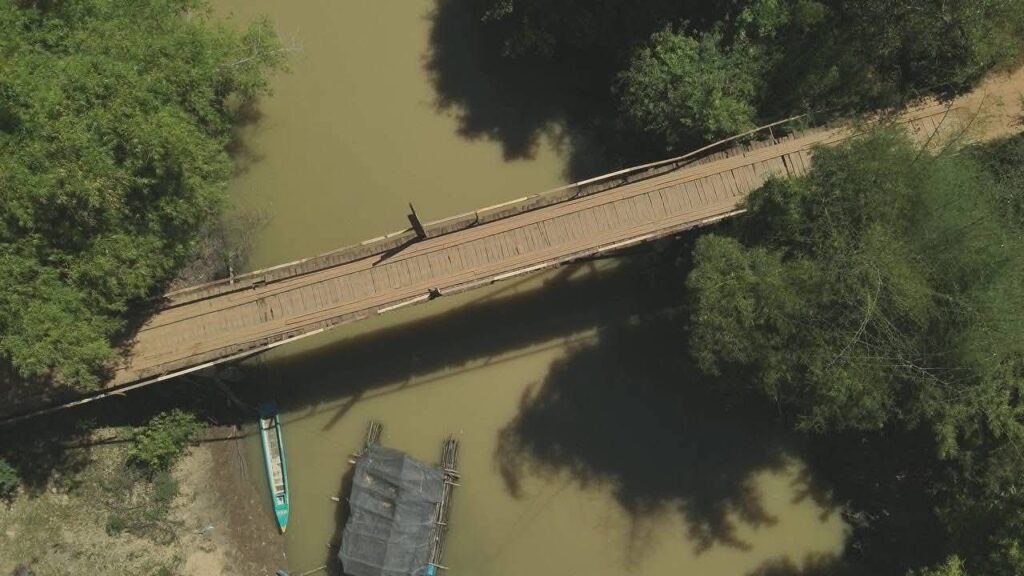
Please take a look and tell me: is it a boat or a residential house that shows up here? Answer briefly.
boat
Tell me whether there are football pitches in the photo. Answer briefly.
No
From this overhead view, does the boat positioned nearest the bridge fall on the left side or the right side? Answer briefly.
left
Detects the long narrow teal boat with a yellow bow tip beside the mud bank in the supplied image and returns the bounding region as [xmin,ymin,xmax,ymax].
[261,404,289,533]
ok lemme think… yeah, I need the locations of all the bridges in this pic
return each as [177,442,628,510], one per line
[0,95,963,422]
